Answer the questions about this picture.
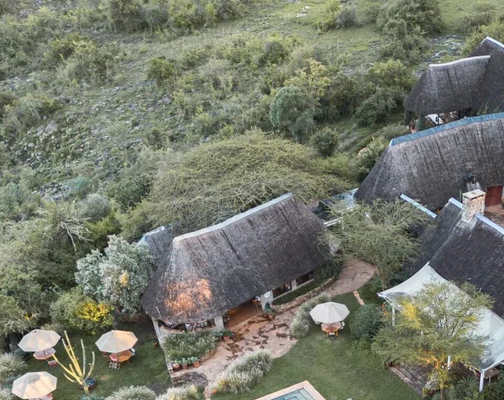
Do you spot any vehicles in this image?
No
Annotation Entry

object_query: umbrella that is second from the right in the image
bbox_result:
[97,334,139,363]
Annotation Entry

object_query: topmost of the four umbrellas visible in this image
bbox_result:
[309,306,349,334]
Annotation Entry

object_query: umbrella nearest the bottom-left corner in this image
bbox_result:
[14,377,59,400]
